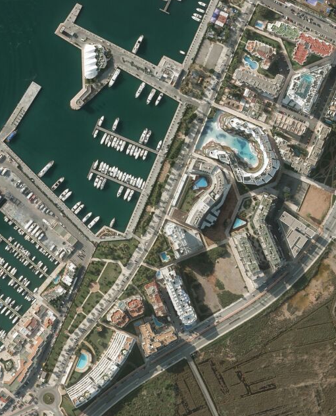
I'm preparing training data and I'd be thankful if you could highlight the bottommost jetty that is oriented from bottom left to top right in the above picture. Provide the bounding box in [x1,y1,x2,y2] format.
[0,82,41,152]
